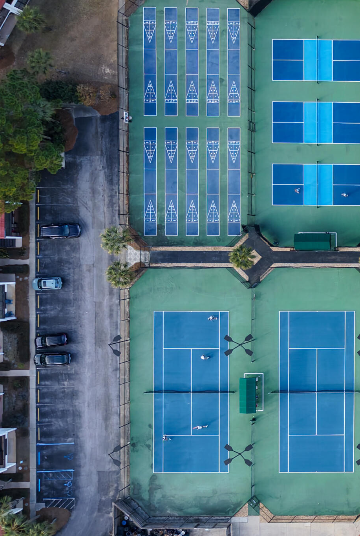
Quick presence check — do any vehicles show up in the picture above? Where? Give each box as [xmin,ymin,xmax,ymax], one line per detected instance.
[32,276,64,291]
[41,222,83,238]
[35,331,71,349]
[35,351,74,367]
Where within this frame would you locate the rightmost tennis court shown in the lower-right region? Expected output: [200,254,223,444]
[254,268,360,515]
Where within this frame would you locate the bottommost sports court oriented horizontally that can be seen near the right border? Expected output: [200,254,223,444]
[271,163,360,206]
